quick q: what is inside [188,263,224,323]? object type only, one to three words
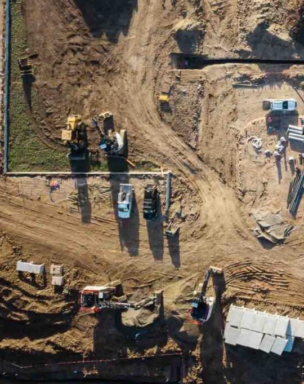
work vehicle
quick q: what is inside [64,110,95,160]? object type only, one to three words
work vehicle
